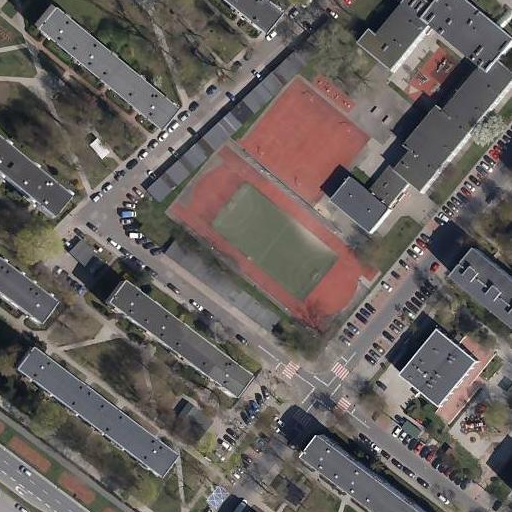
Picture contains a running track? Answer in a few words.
Yes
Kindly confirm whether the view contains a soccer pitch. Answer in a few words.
Yes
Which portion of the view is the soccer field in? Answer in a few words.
center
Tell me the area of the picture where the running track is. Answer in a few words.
center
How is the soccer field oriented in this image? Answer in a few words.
at an angle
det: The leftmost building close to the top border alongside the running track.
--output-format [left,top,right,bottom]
[40,7,180,133]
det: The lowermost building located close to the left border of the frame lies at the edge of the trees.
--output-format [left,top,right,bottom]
[18,348,179,479]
